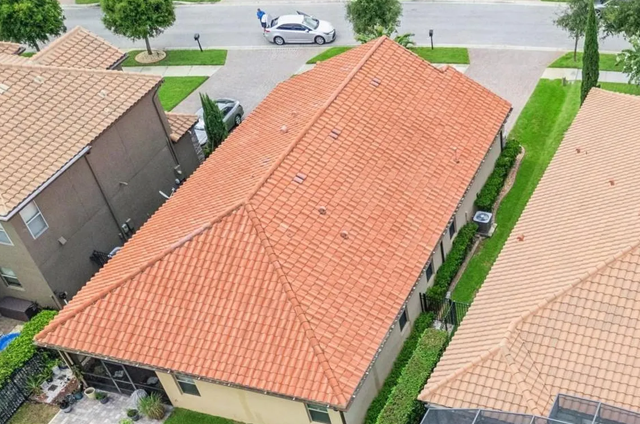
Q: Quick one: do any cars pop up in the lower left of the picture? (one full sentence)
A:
No, no car is visible in the lower left of the picture.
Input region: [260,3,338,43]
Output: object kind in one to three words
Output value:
car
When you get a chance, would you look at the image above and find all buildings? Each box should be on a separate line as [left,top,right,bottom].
[419,82,640,424]
[32,33,515,424]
